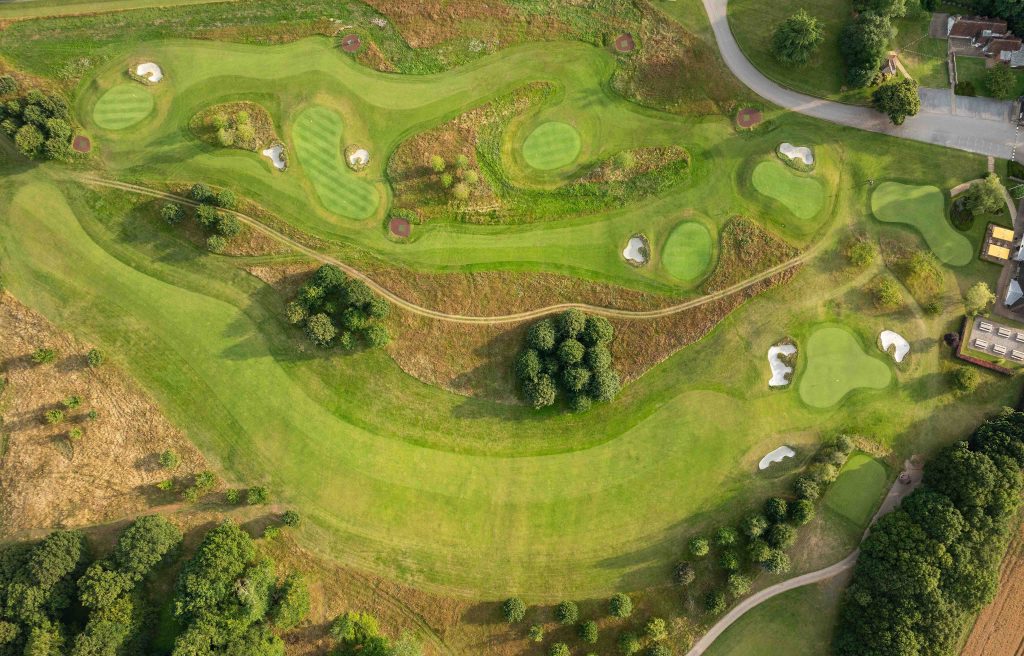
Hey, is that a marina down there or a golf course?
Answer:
golf course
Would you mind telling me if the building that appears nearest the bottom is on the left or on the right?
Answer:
right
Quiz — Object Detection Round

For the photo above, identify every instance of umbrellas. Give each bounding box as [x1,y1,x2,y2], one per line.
[988,226,1014,242]
[986,244,1010,260]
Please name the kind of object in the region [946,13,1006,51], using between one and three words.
house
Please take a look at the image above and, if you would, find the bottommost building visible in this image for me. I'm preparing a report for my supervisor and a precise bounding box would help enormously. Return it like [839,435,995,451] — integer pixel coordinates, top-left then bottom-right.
[996,264,1024,315]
